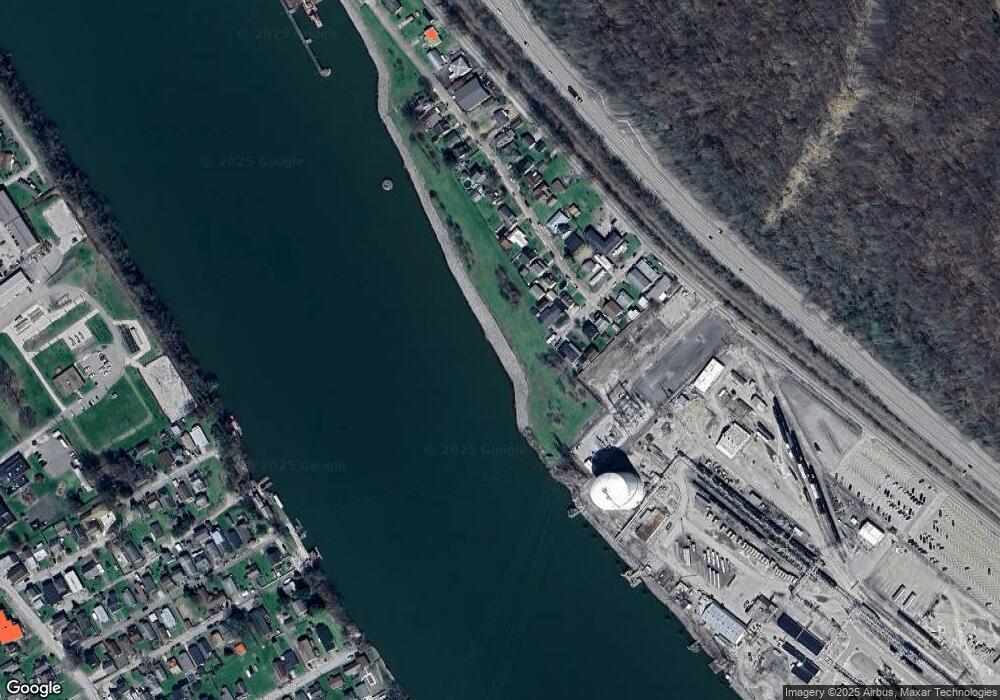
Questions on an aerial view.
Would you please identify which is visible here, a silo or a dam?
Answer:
silo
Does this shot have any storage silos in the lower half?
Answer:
Yes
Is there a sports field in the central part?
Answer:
No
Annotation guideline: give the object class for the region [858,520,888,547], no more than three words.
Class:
building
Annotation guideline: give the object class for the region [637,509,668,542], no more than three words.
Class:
shed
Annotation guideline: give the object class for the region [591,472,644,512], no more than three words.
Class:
silo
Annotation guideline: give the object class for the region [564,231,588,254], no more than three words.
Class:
house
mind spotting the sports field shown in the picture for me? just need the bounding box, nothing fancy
[66,371,159,460]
